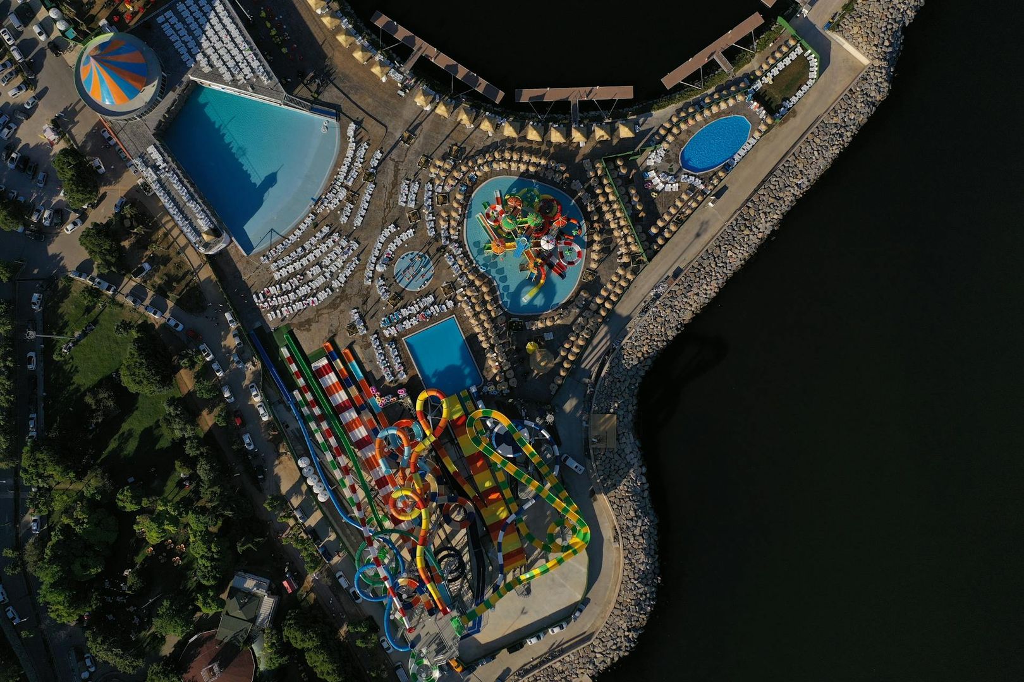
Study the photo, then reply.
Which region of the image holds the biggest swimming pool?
top left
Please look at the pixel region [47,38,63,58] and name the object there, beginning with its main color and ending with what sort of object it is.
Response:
black car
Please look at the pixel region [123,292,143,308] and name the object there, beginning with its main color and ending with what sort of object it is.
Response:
gray car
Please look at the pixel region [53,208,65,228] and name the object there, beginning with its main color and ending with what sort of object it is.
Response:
black vehicle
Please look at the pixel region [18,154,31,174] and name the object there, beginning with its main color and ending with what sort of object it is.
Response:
black vehicle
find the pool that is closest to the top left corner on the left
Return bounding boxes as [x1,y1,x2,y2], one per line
[172,86,340,254]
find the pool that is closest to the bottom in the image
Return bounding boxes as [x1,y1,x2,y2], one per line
[404,316,482,407]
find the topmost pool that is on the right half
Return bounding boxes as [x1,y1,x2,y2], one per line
[677,112,755,176]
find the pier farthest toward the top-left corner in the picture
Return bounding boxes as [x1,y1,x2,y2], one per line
[369,10,505,104]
